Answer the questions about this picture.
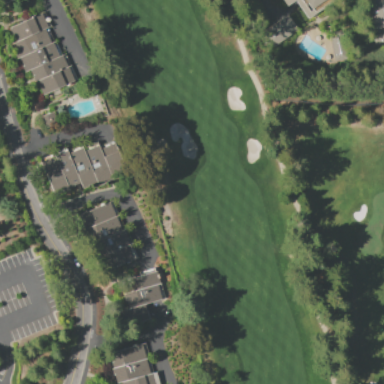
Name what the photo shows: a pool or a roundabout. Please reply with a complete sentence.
I can see a pool in this picture.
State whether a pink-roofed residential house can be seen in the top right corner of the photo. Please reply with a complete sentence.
No, the scene shows no pink-roofed residential house in the top right corner of the photo.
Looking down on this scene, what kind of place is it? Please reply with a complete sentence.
The picture captures a golf course.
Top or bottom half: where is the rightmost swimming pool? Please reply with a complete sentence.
It is in the top half that the rightmost swimming pool appears.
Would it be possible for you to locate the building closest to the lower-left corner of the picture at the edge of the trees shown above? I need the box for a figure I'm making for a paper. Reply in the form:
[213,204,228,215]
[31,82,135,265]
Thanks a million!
[114,345,164,384]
